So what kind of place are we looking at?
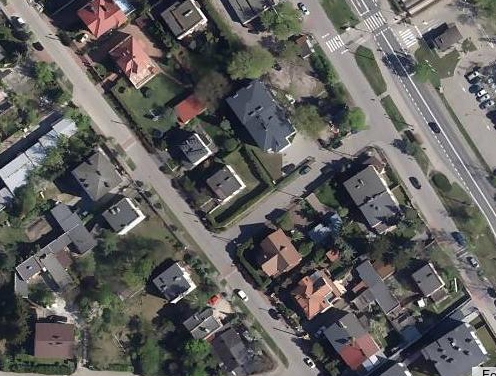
residential area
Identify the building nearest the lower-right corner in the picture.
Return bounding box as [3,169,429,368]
[424,323,491,376]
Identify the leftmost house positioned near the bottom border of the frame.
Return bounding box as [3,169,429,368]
[34,322,80,359]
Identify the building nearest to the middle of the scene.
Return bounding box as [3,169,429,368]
[207,165,248,205]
